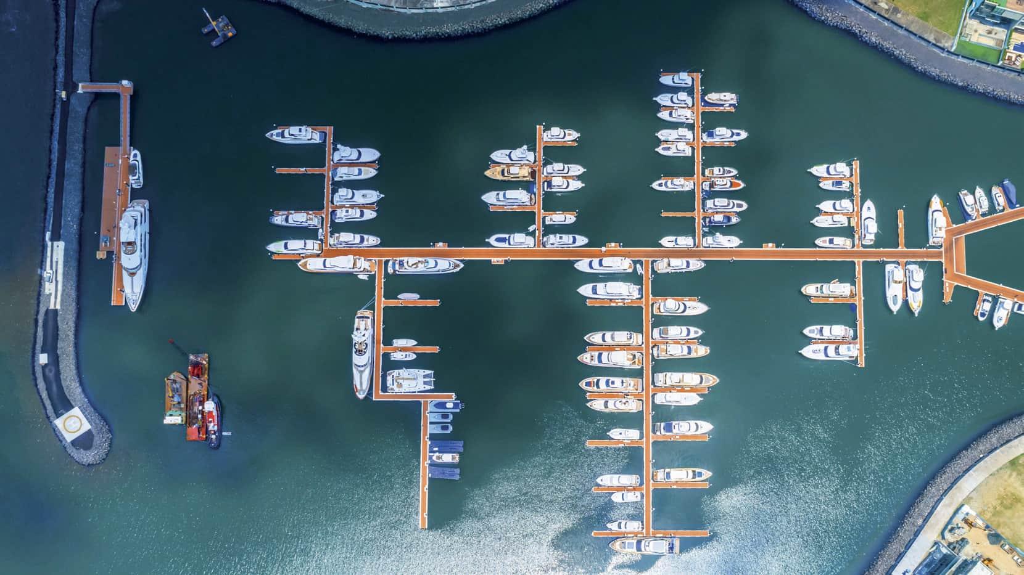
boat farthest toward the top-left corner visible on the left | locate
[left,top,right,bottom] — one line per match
[130,149,143,191]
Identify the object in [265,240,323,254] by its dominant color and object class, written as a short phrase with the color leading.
white boat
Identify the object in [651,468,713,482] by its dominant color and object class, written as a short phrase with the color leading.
white boat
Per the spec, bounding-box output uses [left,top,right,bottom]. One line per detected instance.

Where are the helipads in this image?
[55,407,91,442]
